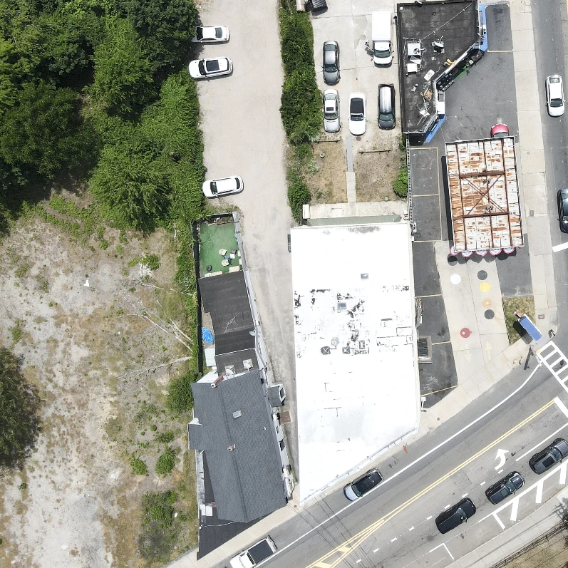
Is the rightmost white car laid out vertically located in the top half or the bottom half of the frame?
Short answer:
top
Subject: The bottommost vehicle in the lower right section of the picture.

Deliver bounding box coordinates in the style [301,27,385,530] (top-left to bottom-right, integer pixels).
[434,500,478,536]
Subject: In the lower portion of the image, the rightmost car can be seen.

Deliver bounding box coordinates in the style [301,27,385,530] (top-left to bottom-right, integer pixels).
[527,439,568,475]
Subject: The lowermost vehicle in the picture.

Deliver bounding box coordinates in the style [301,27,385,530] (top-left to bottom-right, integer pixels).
[229,534,281,568]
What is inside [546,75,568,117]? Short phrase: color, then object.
white car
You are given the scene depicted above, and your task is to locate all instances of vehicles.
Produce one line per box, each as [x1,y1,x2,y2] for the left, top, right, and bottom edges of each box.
[376,82,398,131]
[546,75,568,117]
[188,56,234,78]
[229,534,281,568]
[364,5,395,68]
[322,88,341,134]
[557,188,568,234]
[341,466,385,502]
[434,500,478,536]
[192,23,231,45]
[527,439,568,475]
[203,175,245,197]
[347,92,368,137]
[484,471,526,505]
[322,40,341,86]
